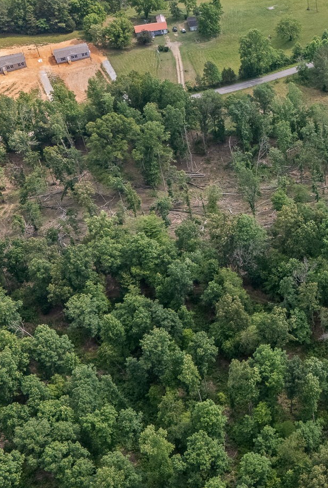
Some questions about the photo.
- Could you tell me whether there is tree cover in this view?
Yes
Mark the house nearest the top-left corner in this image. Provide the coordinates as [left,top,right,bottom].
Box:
[0,54,28,75]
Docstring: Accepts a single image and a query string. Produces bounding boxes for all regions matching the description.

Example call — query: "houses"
[135,15,167,36]
[0,54,28,75]
[52,44,91,64]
